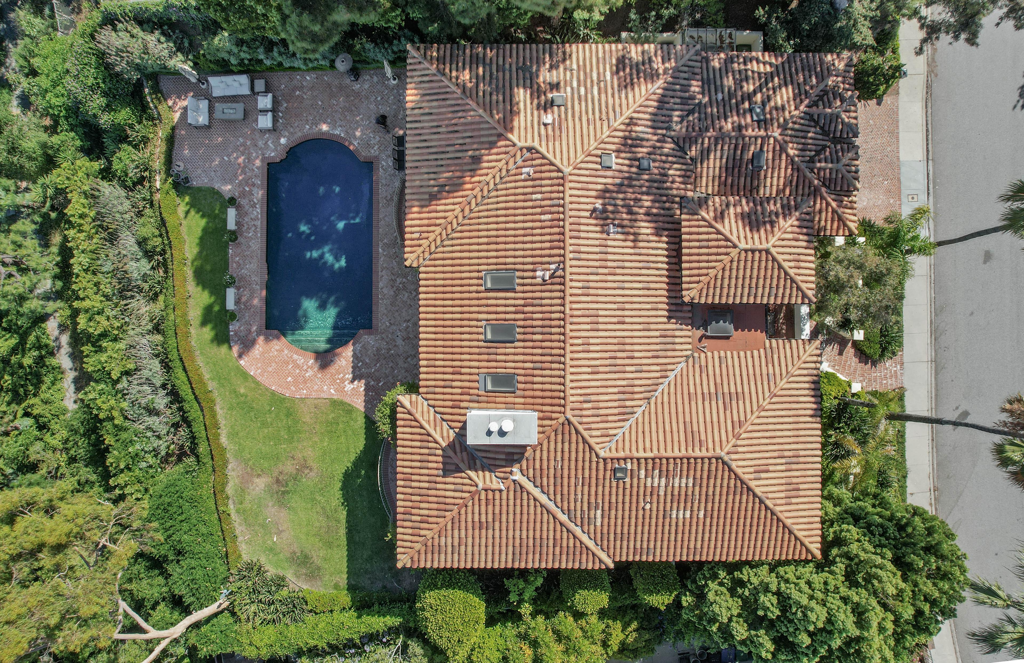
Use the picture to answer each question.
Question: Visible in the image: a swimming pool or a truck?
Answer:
swimming pool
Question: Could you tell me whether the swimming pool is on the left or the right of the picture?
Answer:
left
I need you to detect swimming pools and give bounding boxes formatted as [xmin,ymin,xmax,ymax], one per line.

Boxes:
[260,132,379,359]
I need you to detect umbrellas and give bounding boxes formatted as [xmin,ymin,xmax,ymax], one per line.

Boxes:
[176,63,209,90]
[383,57,400,86]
